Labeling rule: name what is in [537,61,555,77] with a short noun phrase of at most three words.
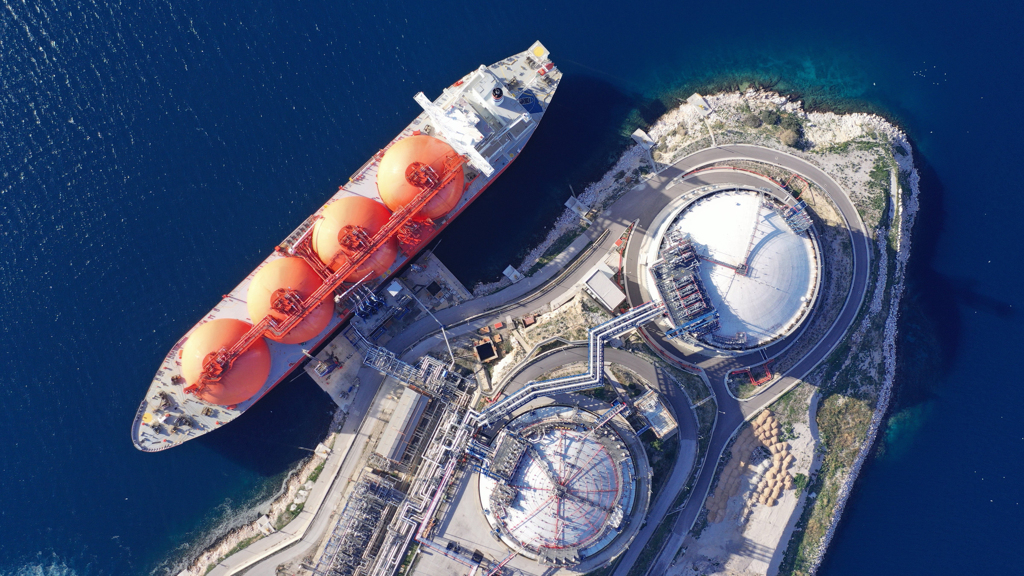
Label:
boat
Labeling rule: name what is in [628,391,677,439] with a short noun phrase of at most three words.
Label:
building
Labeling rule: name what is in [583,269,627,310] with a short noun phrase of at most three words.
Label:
building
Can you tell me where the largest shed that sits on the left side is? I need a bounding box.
[376,385,431,462]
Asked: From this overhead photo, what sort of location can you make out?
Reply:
industrial area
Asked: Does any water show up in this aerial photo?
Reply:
Yes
